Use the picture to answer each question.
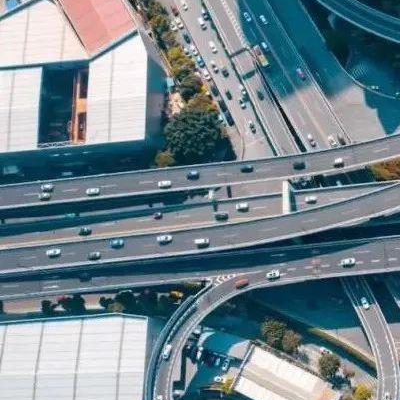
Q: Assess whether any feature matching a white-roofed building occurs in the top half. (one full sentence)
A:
Yes, a white-roofed building appears in the top half.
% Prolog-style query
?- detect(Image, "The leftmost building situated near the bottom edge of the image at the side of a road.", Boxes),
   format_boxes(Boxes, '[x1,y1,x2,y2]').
[0,314,163,400]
